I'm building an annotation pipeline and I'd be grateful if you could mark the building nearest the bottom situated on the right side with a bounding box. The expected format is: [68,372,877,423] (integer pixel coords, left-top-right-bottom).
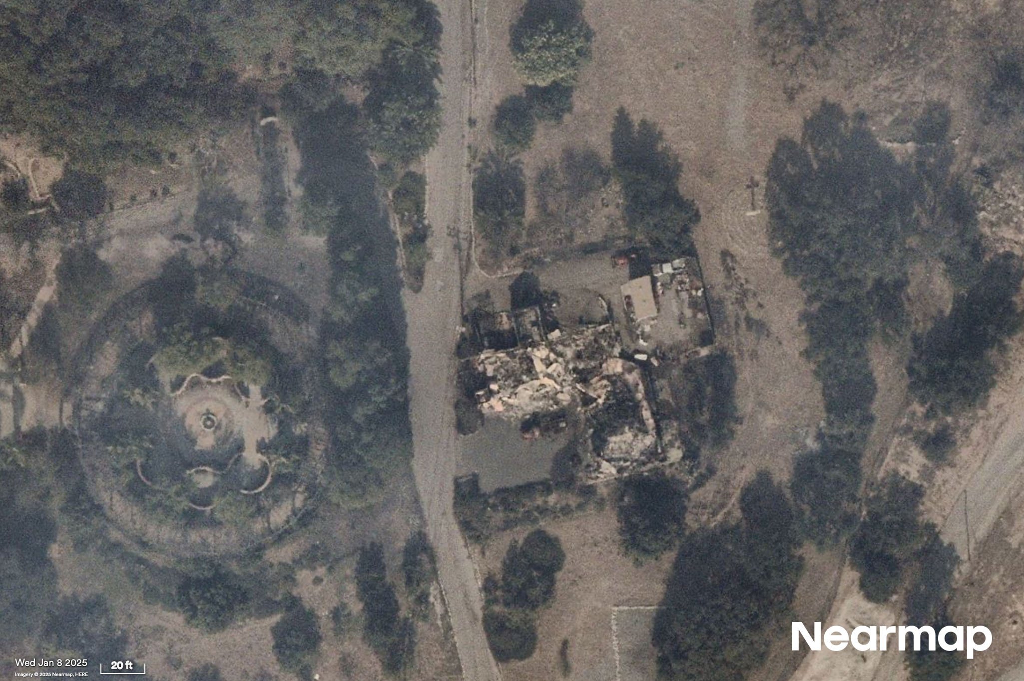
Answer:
[621,275,658,321]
